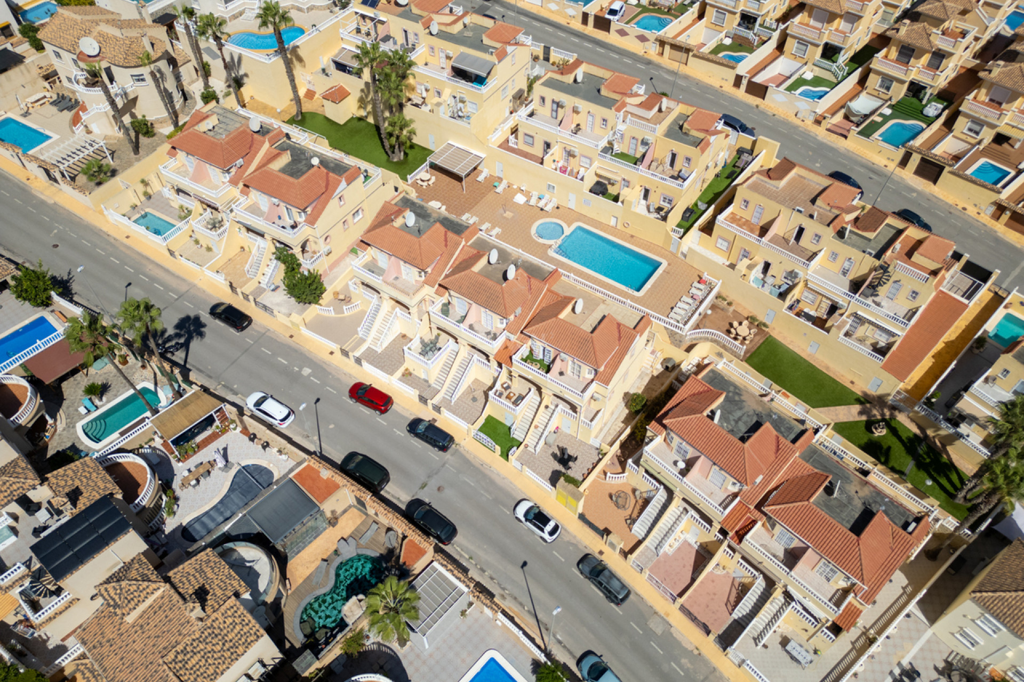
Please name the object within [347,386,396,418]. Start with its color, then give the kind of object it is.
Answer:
red car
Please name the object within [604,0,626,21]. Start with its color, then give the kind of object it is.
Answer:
white car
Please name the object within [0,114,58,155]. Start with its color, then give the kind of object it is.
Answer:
blue swimming pool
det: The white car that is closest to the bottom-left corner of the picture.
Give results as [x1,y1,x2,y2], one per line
[244,394,298,430]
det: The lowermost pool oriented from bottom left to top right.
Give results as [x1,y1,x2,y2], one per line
[293,547,389,656]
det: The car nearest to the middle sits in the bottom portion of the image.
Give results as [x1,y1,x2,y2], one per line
[404,418,457,455]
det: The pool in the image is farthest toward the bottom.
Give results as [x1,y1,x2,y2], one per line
[459,648,530,682]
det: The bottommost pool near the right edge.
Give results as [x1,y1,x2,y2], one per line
[981,313,1024,348]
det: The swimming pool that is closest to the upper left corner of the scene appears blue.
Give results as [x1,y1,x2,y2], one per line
[21,0,63,26]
